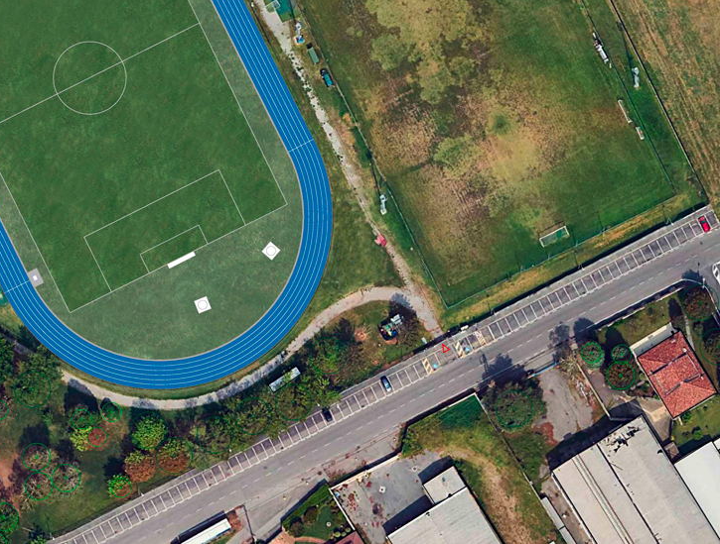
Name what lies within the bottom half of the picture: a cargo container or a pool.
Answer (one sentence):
Looking within the bottom half of the picture, you will find a cargo container.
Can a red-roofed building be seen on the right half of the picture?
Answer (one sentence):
Yes, looking on the right half of the picture, one can make out a red-roofed building.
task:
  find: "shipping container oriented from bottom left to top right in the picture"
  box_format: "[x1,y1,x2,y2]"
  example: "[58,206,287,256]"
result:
[270,366,301,392]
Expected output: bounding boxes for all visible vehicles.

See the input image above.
[699,216,711,232]
[322,407,334,423]
[187,518,233,544]
[380,375,392,392]
[321,70,333,87]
